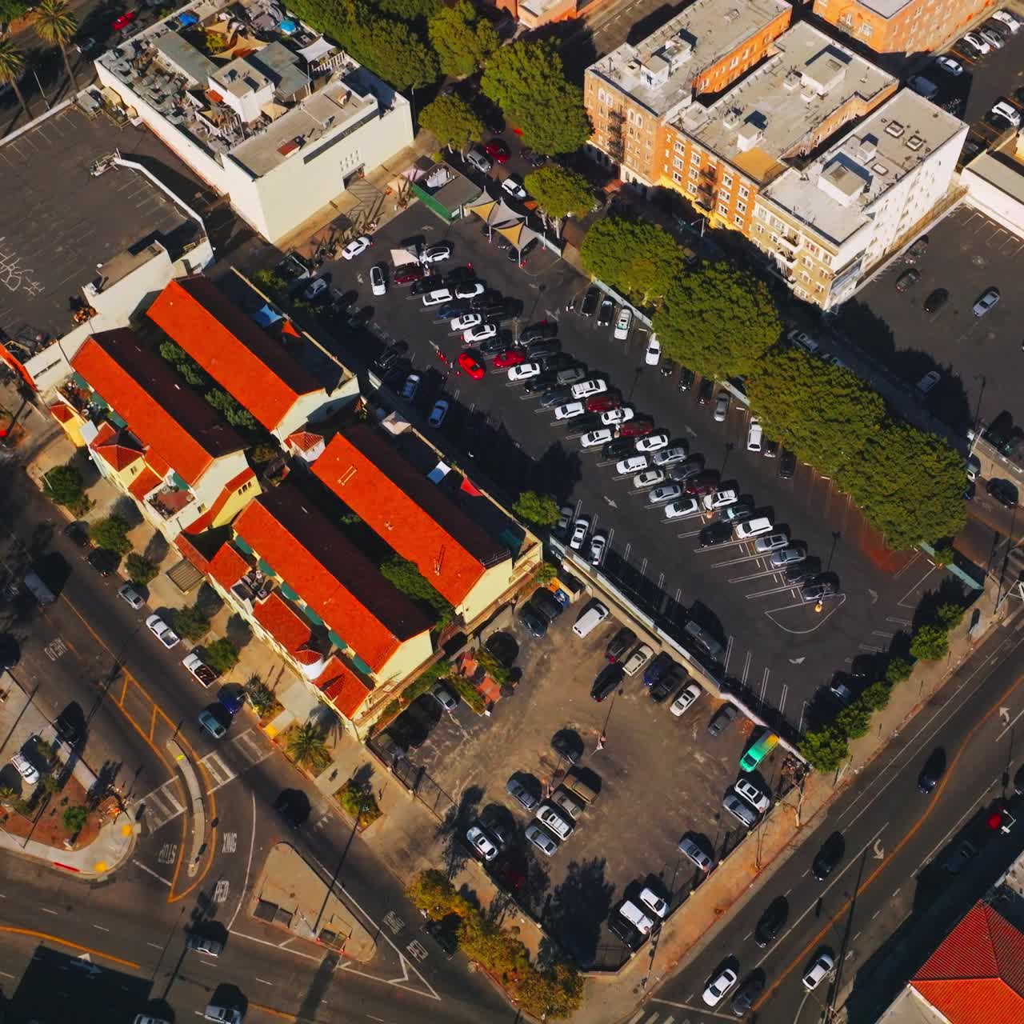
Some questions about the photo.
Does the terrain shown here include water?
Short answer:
No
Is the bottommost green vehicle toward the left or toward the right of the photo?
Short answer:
right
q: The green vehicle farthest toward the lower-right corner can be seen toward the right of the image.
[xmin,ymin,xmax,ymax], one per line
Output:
[742,732,777,772]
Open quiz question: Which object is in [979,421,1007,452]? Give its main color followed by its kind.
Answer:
black car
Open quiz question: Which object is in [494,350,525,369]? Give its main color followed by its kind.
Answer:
red car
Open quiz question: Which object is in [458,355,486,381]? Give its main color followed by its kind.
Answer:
red car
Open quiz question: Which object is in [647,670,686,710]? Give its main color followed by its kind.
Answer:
black vehicle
